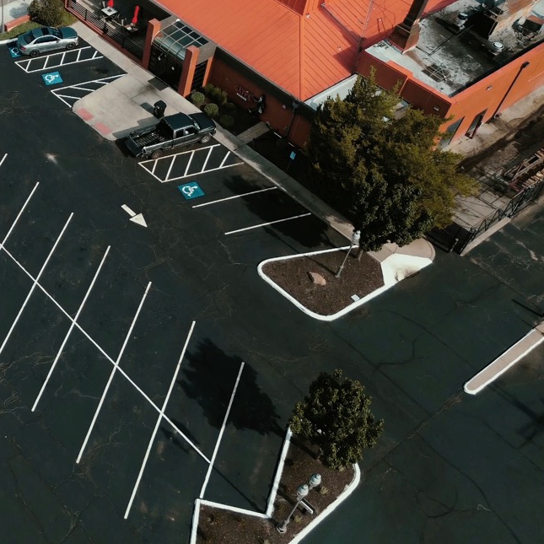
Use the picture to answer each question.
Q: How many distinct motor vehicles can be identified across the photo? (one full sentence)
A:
Altogether the scene contains 2 motor vehicles.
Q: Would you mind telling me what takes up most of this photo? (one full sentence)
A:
The bulk of the photo consists of paved ground.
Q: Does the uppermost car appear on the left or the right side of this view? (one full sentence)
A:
The uppermost car is on the left side of the image.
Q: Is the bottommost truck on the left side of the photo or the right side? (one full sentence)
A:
You can find the bottommost truck on the left side of the picture.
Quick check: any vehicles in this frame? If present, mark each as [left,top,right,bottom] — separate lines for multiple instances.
[123,113,220,160]
[14,24,82,58]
